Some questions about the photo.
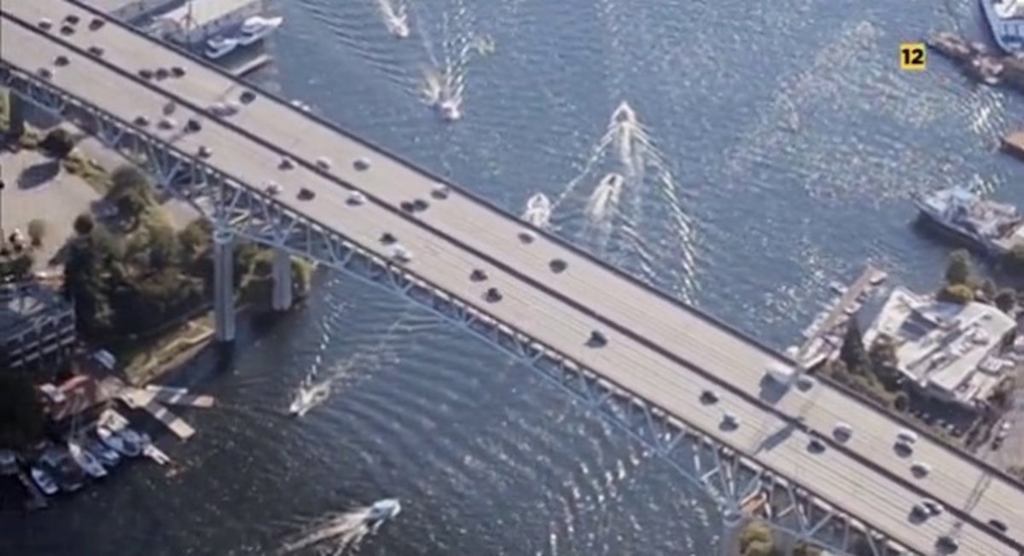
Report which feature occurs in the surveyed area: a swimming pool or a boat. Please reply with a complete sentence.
The one in the frame is a boat.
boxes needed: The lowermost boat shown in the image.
[365,499,399,521]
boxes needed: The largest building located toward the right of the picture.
[863,287,1013,407]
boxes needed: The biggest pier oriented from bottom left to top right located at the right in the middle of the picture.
[801,265,876,367]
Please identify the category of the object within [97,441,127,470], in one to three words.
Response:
boat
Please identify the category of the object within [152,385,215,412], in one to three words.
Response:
pier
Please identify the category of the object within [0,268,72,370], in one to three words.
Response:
building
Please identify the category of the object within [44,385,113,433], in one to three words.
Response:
building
